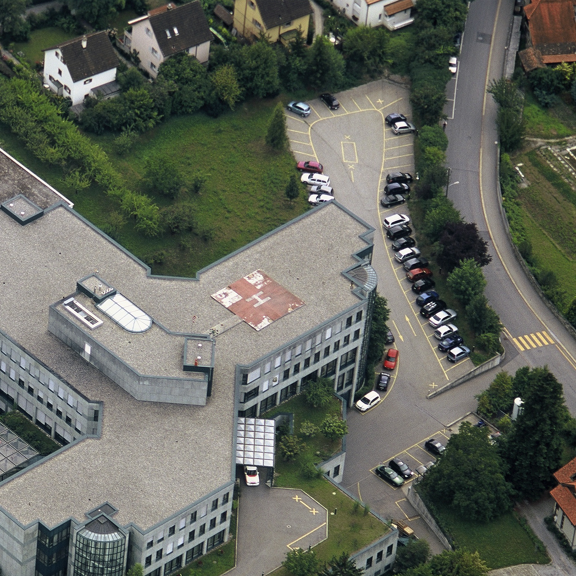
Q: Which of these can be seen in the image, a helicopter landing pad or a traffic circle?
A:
helicopter landing pad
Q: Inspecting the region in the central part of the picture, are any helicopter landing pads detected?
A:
Yes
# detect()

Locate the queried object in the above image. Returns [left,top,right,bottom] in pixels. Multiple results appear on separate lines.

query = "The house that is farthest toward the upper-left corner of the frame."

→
[45,31,120,101]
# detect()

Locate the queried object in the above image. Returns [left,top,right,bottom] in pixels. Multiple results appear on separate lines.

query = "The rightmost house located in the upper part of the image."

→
[509,0,576,80]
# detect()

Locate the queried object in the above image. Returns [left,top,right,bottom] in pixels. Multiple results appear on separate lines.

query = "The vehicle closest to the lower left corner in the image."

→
[245,469,260,489]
